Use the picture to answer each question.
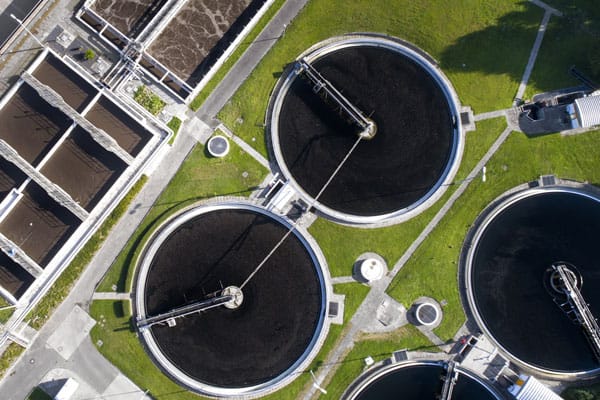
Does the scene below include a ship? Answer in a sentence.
No, I can't see a single ship in this photo.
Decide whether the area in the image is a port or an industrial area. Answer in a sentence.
This looks like an industrial area.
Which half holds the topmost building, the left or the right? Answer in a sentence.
You can find the topmost building on the right side of the picture.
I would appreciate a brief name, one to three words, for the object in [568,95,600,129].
building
